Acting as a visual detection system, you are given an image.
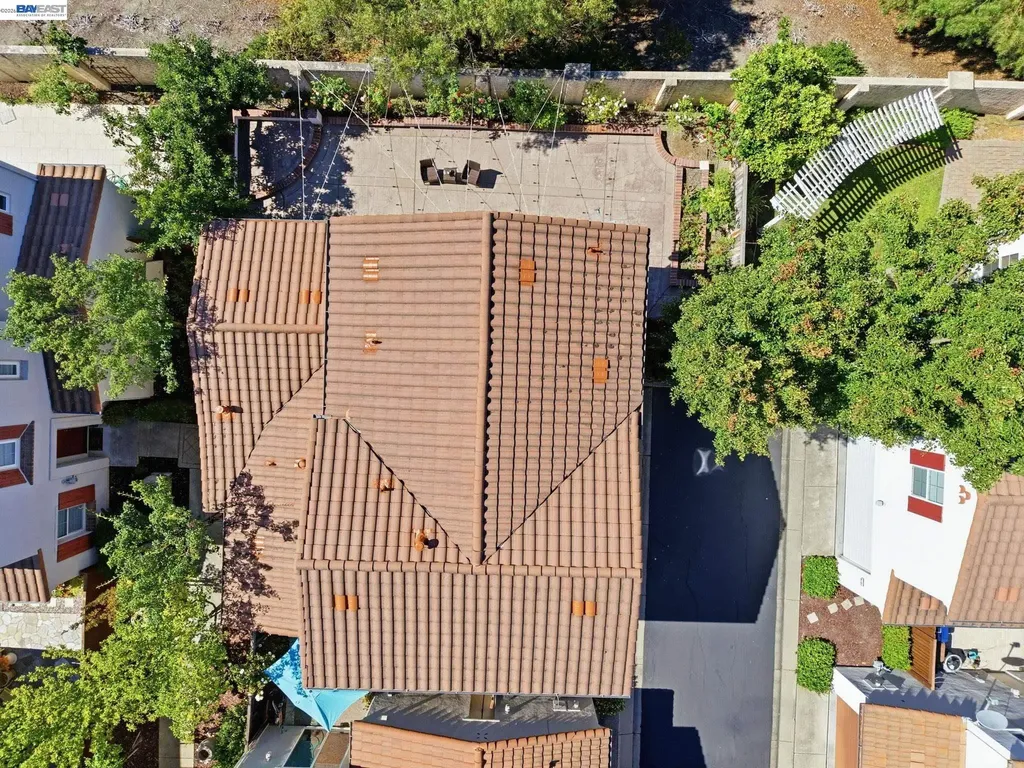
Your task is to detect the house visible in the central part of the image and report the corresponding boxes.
[184,207,651,704]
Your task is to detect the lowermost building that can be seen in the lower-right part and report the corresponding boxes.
[832,668,1024,768]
